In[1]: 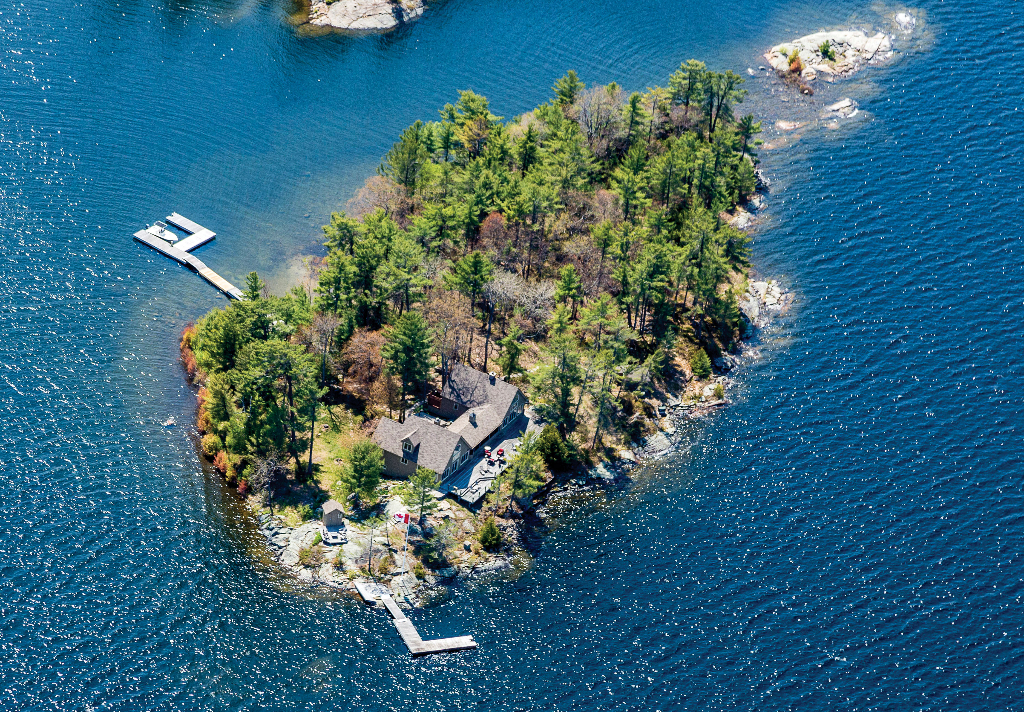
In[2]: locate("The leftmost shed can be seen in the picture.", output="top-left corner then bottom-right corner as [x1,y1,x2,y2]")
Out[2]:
[323,496,344,526]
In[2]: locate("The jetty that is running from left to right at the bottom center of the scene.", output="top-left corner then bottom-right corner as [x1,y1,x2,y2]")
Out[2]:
[393,618,477,656]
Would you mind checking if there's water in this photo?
Yes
